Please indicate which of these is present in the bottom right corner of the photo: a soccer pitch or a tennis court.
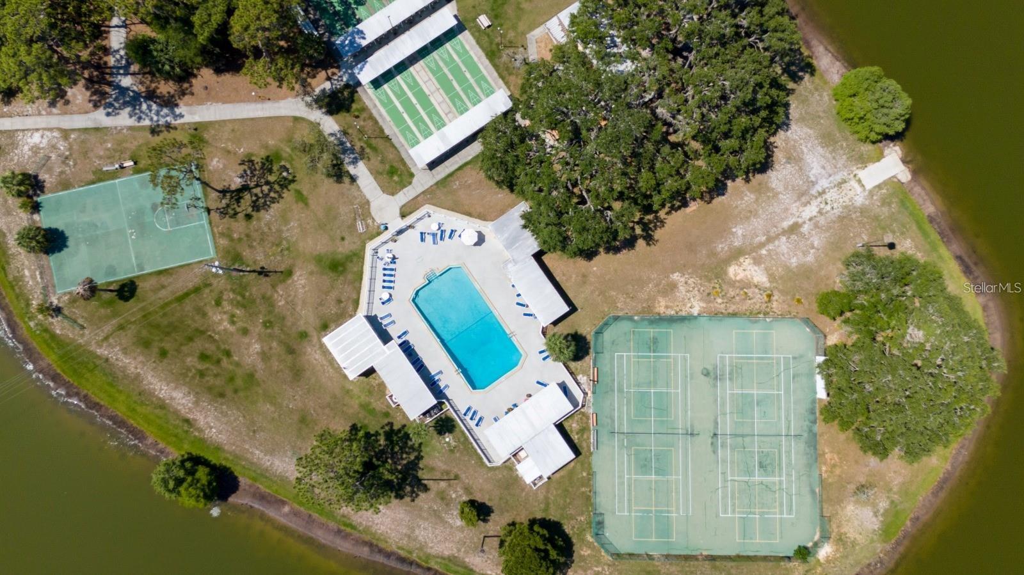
tennis court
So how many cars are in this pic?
0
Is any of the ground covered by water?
Yes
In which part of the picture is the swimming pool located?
center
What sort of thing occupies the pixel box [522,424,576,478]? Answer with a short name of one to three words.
building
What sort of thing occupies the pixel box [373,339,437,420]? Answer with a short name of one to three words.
building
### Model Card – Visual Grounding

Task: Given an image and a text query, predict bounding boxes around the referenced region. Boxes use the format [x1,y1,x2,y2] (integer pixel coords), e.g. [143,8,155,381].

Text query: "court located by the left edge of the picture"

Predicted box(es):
[38,161,216,294]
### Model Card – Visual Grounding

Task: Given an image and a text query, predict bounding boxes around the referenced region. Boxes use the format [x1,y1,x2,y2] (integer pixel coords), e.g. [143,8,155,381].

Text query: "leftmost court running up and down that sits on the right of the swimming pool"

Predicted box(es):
[592,315,706,555]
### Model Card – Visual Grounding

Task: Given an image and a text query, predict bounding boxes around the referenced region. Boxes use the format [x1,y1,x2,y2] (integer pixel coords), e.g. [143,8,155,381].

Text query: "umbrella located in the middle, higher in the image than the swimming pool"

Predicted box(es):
[461,229,478,246]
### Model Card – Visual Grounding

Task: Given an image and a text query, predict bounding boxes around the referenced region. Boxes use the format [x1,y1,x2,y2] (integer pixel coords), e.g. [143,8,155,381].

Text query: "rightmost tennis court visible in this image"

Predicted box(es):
[704,316,820,555]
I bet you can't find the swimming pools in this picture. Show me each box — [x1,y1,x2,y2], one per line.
[406,262,527,394]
